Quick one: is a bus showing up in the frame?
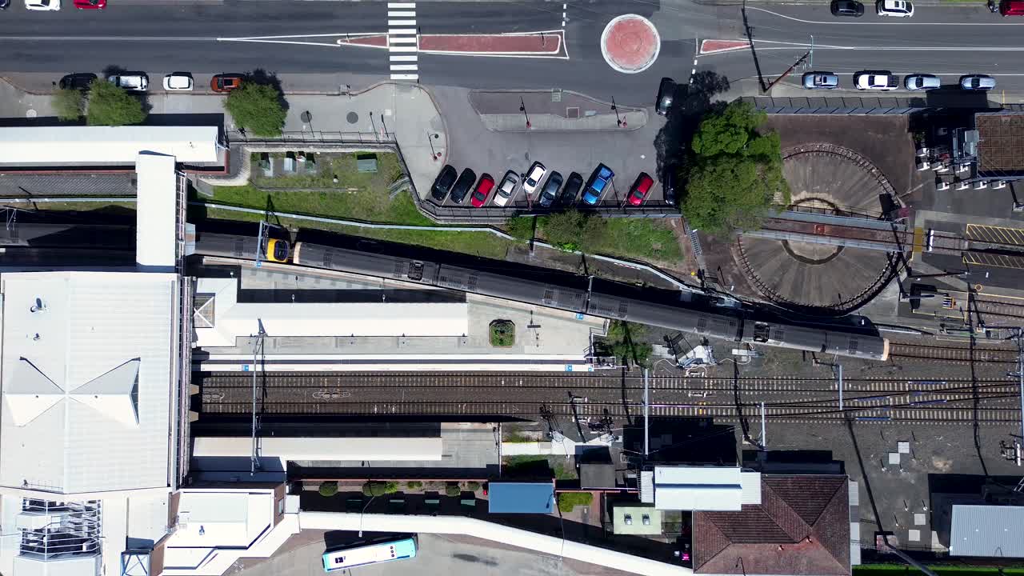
Yes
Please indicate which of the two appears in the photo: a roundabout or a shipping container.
roundabout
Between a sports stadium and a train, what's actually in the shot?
train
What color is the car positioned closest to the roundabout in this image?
black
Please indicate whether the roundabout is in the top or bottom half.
top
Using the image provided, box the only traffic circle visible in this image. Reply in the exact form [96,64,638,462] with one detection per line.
[601,14,660,73]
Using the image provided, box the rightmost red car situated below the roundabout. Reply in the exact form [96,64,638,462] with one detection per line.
[628,173,654,207]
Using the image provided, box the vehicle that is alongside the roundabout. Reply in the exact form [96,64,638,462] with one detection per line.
[655,77,676,116]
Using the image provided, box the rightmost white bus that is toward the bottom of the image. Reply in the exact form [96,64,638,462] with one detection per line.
[322,532,421,572]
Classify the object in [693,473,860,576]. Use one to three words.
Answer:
house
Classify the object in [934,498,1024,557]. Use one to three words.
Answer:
shed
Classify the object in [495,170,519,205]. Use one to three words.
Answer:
car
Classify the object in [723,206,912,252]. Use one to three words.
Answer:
bridge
